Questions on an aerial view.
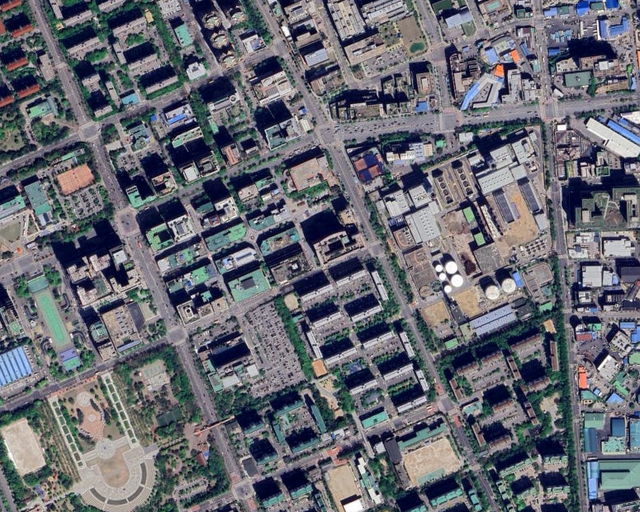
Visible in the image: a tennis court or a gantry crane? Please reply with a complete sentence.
Looking from above, you can make out a tennis court.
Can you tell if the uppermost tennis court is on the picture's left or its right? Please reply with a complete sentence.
The uppermost tennis court appears in the left half of the scene.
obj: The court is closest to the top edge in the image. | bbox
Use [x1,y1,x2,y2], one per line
[58,164,94,195]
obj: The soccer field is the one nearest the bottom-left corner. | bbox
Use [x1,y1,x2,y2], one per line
[1,418,42,477]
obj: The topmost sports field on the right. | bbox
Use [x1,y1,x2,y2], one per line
[404,437,461,484]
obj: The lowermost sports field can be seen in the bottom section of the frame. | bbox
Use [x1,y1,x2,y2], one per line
[326,465,362,512]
